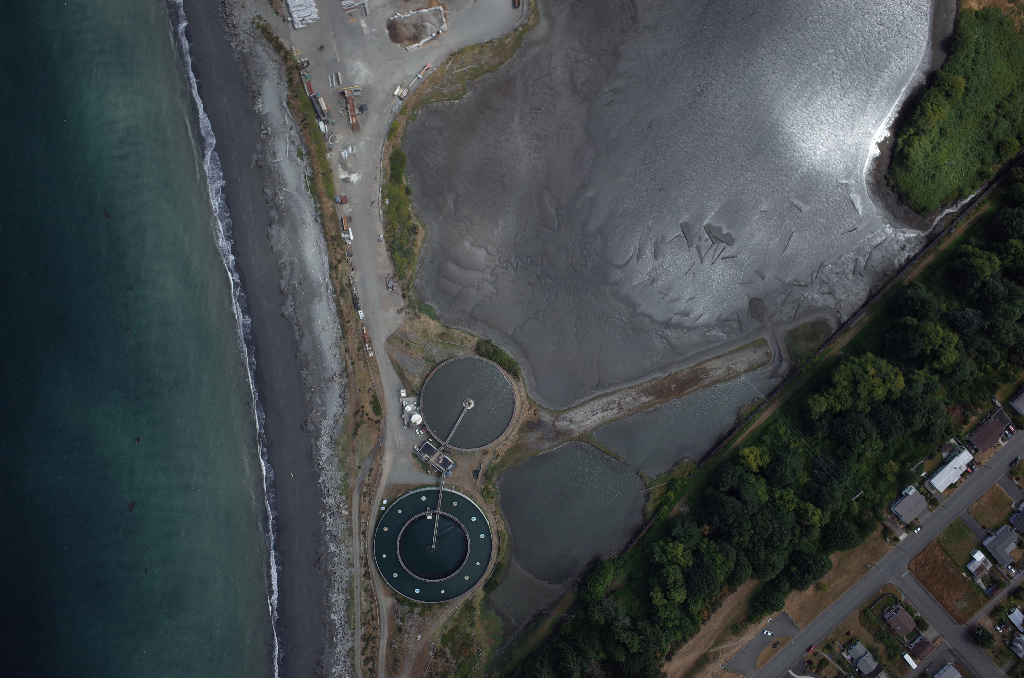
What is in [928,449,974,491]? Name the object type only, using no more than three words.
house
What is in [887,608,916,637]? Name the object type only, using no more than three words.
house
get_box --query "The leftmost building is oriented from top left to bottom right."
[417,440,457,473]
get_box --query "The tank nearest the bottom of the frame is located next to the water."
[375,471,492,604]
